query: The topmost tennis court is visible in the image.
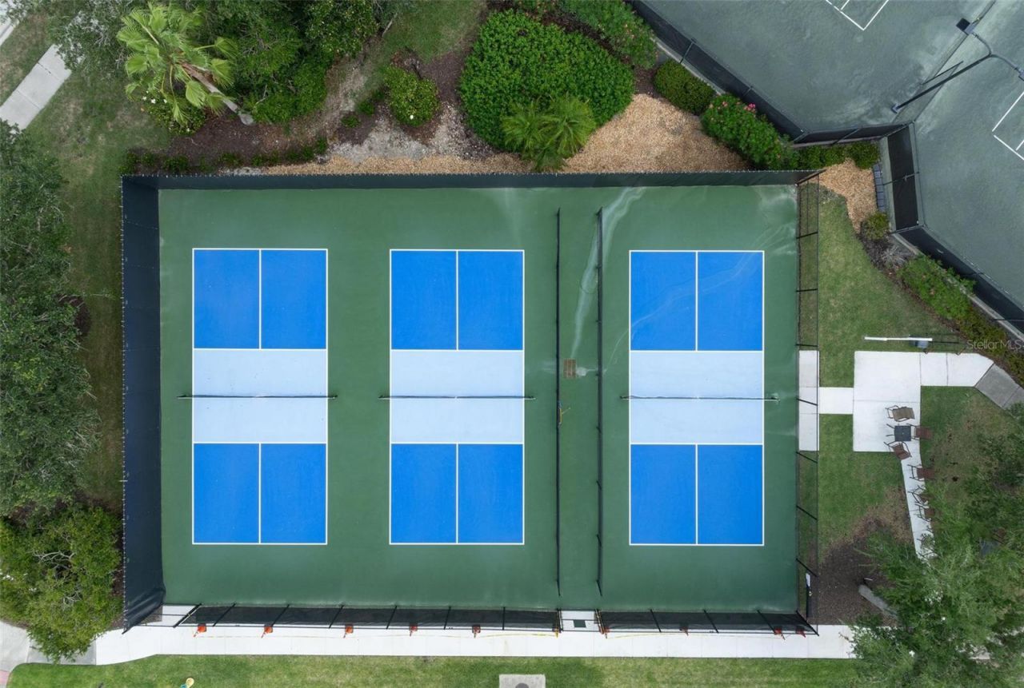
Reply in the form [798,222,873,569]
[607,0,991,146]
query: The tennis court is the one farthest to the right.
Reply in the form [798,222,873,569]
[880,0,1024,337]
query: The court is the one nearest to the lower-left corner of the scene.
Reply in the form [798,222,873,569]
[192,248,327,546]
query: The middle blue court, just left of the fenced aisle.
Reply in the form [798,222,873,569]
[389,249,525,546]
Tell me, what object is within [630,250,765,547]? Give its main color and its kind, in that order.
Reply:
blue sports court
